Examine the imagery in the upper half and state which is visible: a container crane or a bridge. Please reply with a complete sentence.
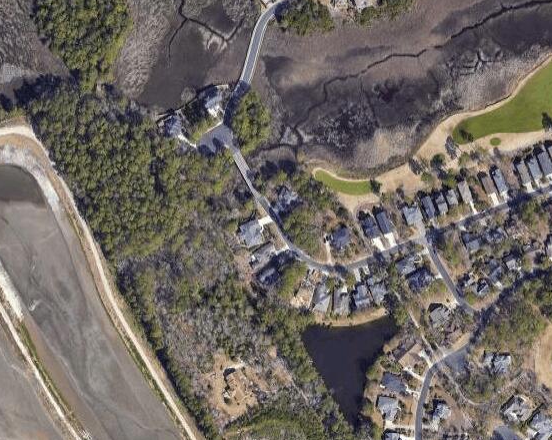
It is a bridge that can be seen in the upper half.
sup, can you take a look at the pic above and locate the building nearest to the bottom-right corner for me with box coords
[531,412,552,440]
